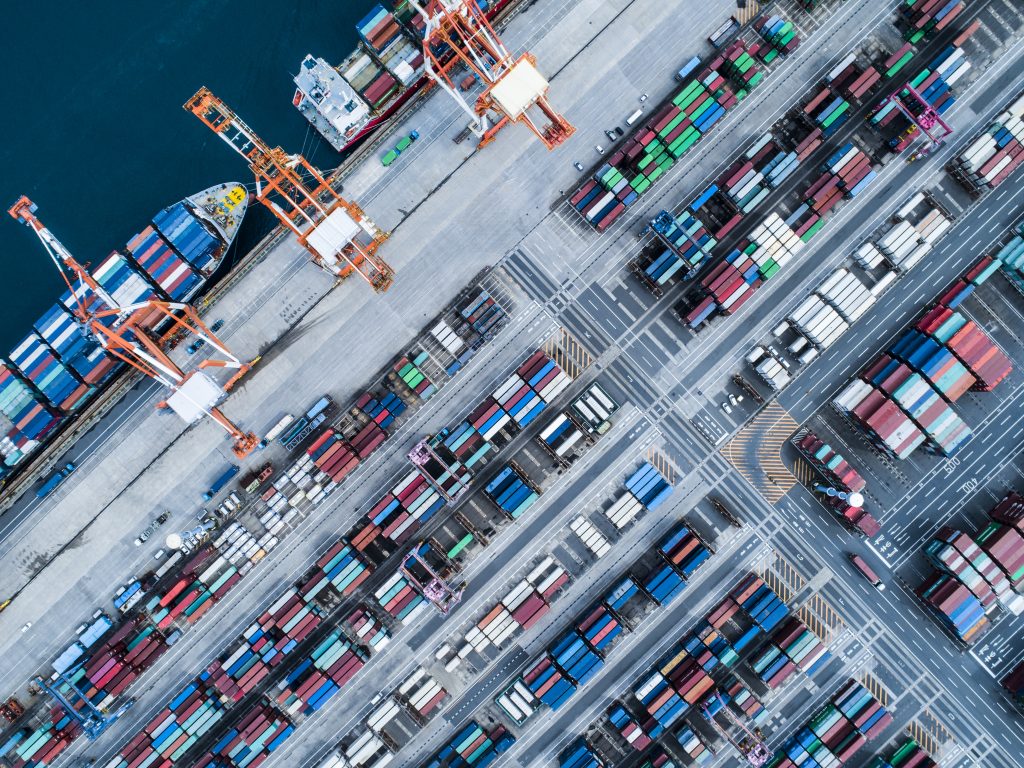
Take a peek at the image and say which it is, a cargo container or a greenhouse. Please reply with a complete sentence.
Visible in the photo is a cargo container.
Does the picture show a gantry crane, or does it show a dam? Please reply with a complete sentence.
It is a gantry crane that can be seen here.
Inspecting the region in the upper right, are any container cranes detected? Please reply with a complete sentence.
Yes, you'll find a container crane in the upper right.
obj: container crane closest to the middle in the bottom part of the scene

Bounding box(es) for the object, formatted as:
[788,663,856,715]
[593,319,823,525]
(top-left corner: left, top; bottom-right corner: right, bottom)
[407,431,479,505]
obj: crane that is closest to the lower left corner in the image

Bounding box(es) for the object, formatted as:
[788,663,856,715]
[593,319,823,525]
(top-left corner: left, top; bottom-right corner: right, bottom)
[35,654,130,747]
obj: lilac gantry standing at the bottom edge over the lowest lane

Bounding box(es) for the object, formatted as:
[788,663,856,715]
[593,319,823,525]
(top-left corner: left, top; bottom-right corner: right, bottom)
[699,669,771,761]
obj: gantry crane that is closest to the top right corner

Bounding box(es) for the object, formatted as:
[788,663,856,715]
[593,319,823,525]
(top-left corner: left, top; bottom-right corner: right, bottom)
[858,83,949,167]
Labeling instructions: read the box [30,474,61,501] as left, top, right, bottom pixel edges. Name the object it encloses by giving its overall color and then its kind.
blue shipping container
